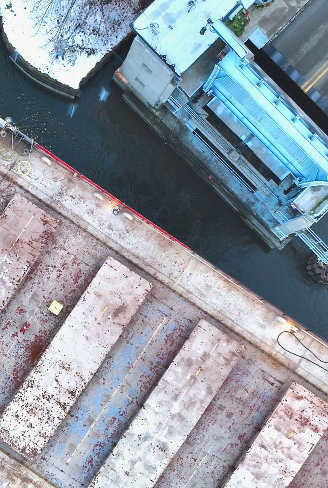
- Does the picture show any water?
Yes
